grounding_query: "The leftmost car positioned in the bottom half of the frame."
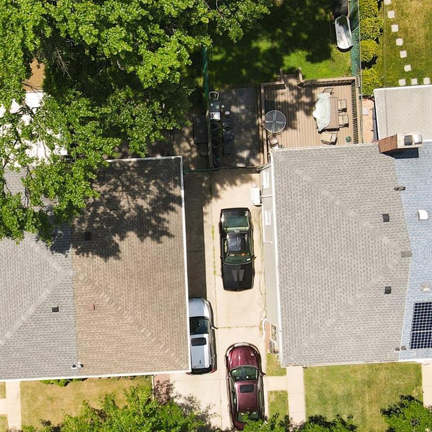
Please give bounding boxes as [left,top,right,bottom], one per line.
[189,296,222,375]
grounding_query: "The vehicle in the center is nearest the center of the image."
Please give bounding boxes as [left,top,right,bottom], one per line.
[219,207,258,291]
